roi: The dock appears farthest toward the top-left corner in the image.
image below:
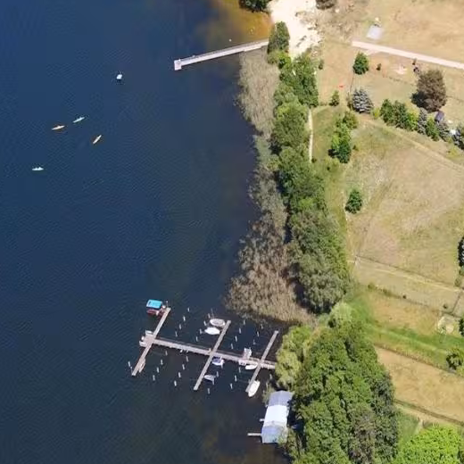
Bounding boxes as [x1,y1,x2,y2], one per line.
[173,38,270,70]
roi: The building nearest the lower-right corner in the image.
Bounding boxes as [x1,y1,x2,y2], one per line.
[249,392,294,452]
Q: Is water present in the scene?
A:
Yes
